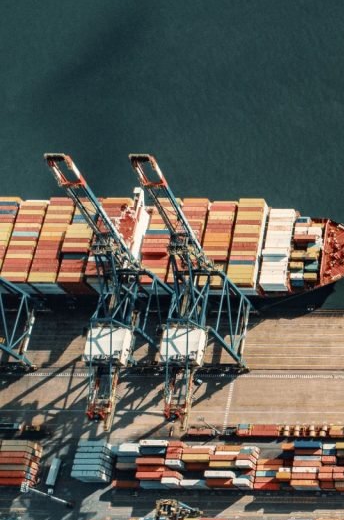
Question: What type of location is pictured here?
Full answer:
The picture captures a port.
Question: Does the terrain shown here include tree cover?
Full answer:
No, the picture contains no tree cover.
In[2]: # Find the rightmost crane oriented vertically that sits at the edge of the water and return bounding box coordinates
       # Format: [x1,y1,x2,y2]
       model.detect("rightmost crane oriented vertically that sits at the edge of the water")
[131,154,267,429]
